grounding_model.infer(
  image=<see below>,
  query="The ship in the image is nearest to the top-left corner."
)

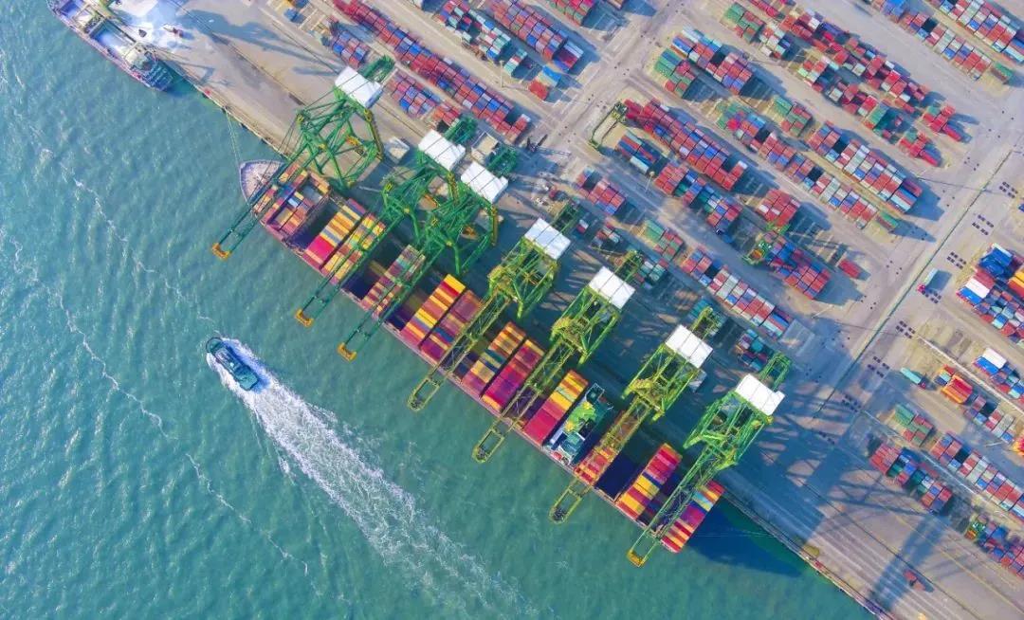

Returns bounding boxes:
[35,0,208,96]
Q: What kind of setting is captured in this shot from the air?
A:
port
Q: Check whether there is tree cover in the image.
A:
No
